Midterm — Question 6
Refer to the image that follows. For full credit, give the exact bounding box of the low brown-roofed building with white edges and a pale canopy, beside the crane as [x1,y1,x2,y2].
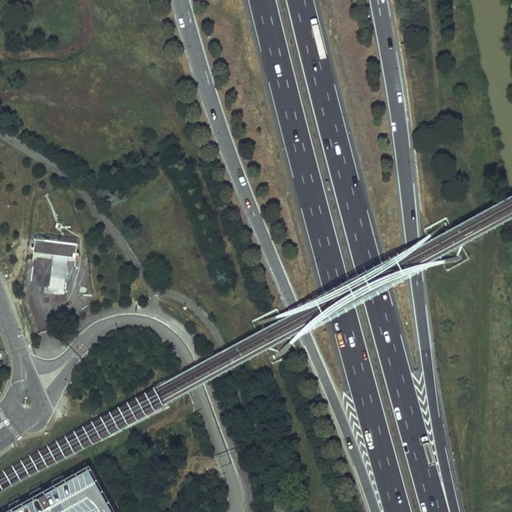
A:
[32,238,78,294]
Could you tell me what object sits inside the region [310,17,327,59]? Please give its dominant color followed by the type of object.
white vehicle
